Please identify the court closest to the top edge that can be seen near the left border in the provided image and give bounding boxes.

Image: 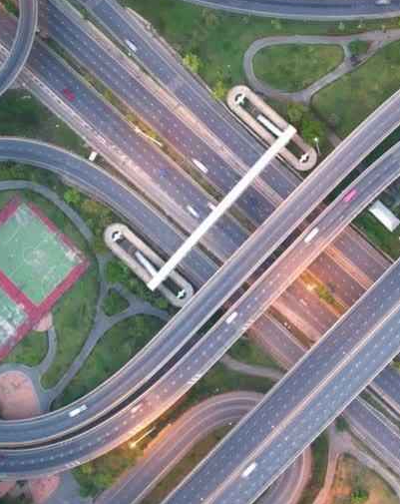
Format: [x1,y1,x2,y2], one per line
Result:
[0,196,90,315]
